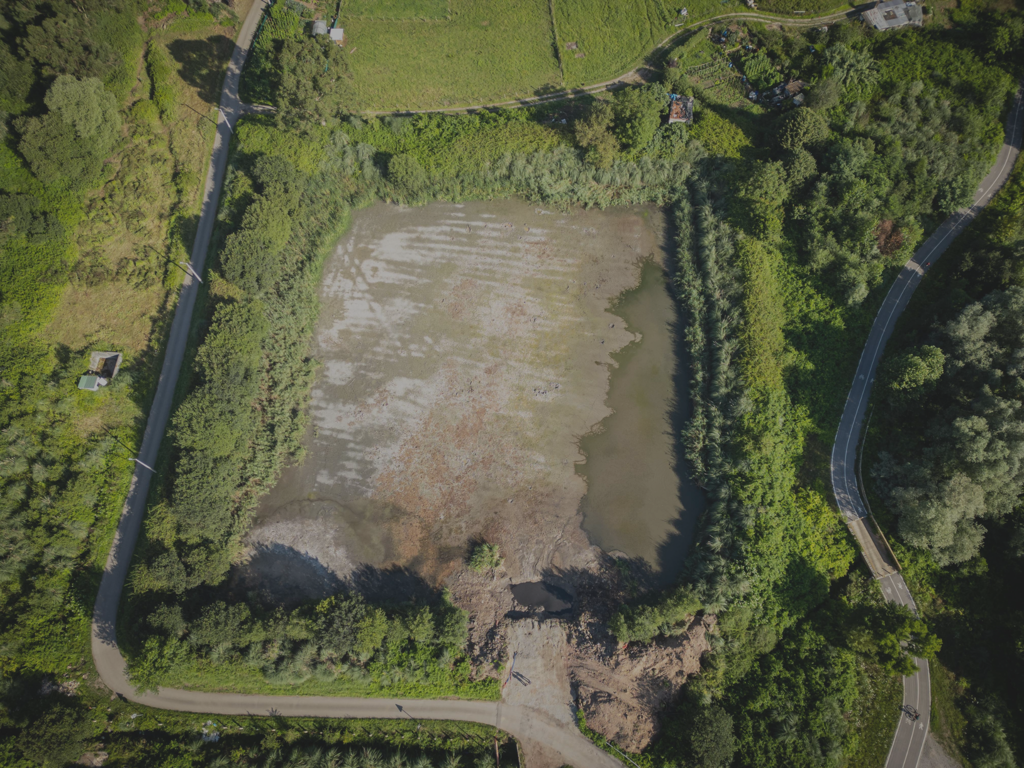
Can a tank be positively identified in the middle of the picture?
No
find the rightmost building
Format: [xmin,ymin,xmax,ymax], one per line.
[859,0,923,34]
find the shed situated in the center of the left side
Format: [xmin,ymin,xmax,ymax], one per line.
[79,376,104,393]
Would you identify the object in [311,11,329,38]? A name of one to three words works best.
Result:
greenhouse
